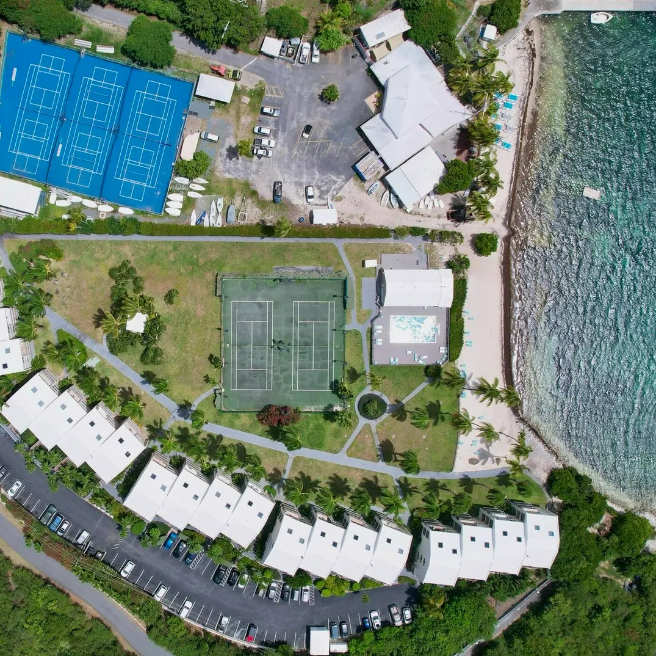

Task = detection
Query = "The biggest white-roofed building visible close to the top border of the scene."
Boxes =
[350,30,474,171]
